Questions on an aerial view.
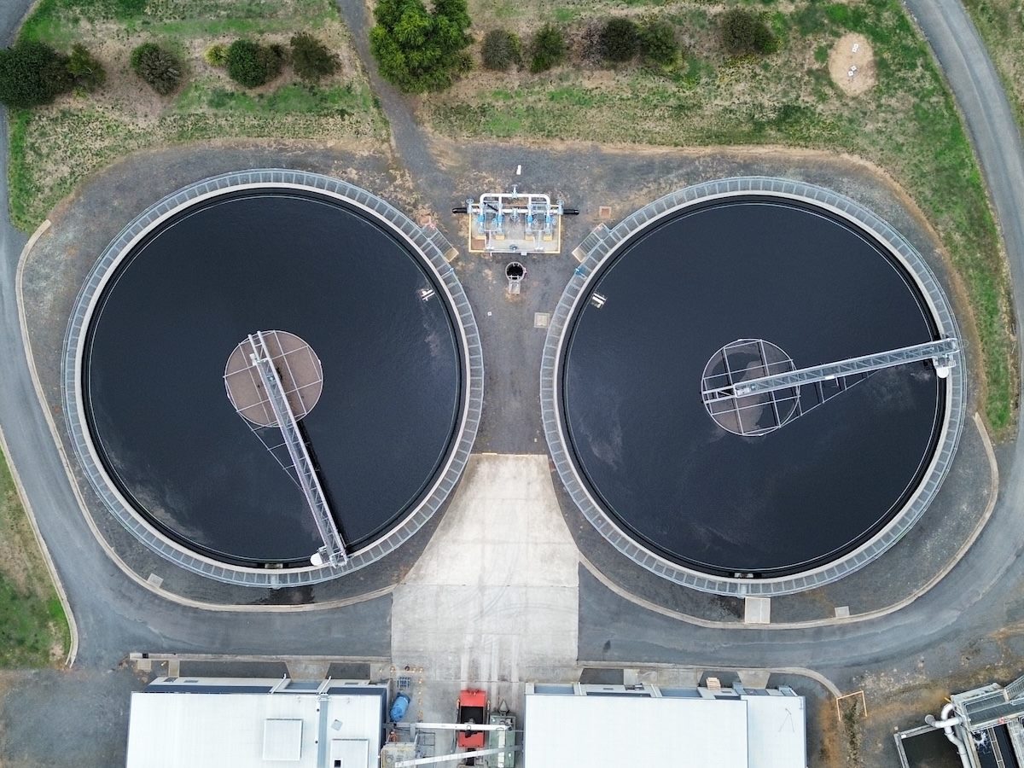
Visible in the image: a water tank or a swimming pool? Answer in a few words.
water tank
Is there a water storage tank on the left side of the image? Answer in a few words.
Yes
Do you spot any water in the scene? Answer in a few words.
Yes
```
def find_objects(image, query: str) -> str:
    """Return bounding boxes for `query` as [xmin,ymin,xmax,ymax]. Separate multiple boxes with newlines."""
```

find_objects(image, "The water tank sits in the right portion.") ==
[544,175,967,599]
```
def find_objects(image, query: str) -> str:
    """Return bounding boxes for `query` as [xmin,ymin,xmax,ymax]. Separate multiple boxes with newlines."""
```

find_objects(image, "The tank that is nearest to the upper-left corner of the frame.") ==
[60,168,481,589]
